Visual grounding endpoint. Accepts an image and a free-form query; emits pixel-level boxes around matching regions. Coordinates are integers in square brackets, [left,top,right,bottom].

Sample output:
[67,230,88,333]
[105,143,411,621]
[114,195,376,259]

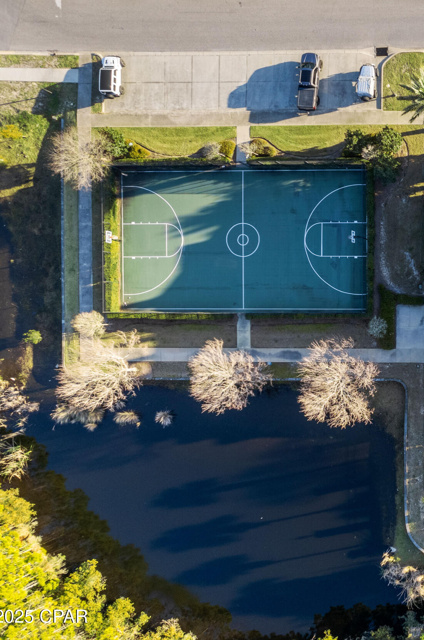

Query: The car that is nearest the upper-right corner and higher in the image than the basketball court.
[357,66,380,106]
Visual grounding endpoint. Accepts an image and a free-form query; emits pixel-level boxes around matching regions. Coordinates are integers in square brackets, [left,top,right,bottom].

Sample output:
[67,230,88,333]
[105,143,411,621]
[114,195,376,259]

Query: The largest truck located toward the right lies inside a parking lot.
[298,55,323,114]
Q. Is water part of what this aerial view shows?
Yes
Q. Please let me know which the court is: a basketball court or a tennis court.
basketball court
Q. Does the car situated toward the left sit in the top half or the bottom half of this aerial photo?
top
